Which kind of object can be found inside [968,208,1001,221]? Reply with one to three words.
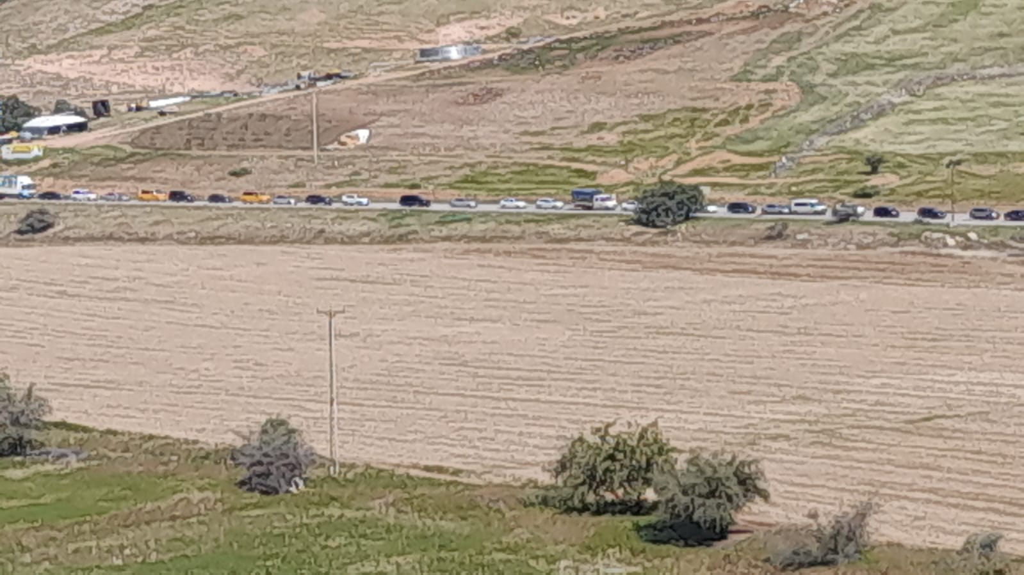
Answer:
vehicle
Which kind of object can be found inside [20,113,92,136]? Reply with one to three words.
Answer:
barn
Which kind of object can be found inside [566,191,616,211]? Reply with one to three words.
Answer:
vehicle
